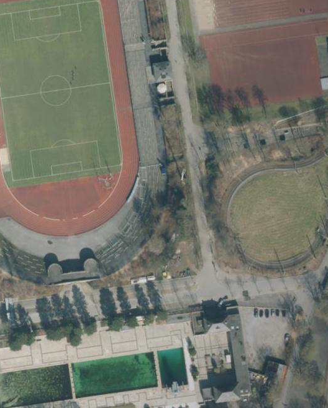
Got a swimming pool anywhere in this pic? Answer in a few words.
Yes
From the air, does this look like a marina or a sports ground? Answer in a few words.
sports ground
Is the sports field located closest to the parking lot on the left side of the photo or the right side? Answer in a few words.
right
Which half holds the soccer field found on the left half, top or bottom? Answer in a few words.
top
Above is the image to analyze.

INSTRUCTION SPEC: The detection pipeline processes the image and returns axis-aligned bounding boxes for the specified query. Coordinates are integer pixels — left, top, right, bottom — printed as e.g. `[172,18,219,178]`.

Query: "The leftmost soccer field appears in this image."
[0,0,124,189]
